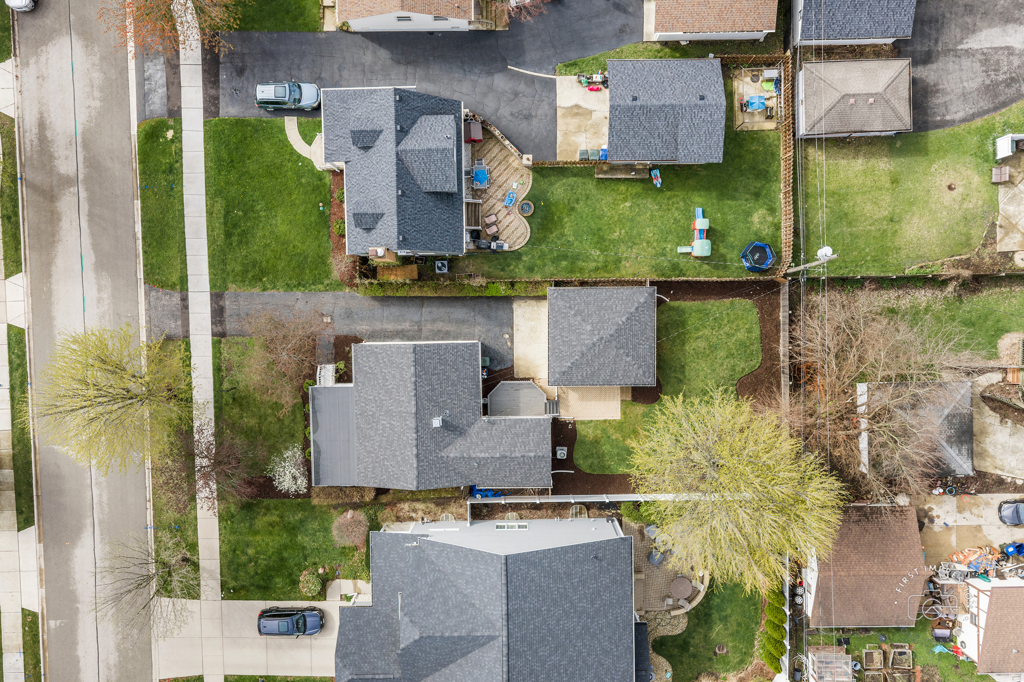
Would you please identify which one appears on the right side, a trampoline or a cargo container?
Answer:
trampoline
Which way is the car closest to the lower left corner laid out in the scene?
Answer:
from left to right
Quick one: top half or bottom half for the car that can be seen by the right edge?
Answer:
bottom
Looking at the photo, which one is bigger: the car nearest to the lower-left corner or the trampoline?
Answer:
the car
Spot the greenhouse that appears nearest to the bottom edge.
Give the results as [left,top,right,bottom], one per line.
[805,642,852,682]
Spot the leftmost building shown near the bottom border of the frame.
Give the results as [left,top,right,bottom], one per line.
[336,518,649,682]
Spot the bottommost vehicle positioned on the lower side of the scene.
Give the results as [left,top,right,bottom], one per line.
[256,605,325,640]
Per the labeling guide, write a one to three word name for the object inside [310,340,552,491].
house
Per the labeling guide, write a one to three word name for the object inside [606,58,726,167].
building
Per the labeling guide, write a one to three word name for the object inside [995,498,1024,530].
car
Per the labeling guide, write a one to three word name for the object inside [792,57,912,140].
building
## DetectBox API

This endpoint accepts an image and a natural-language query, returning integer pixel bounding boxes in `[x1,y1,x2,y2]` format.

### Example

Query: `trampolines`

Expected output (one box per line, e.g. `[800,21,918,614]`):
[742,240,782,273]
